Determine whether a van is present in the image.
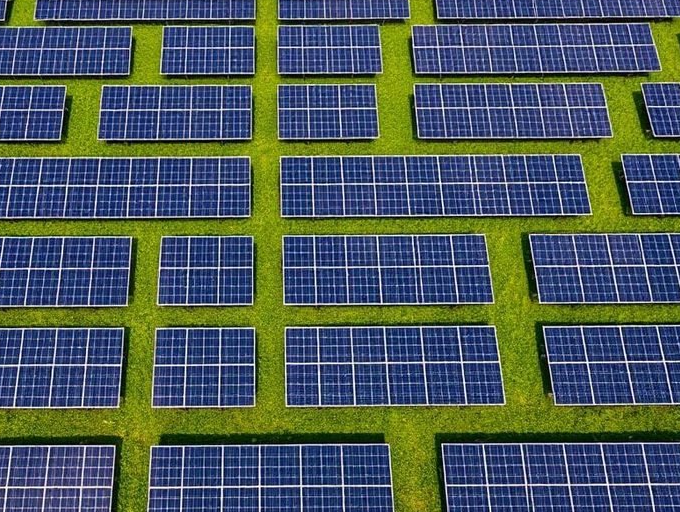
No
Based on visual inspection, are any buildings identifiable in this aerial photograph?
No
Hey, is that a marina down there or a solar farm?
solar farm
